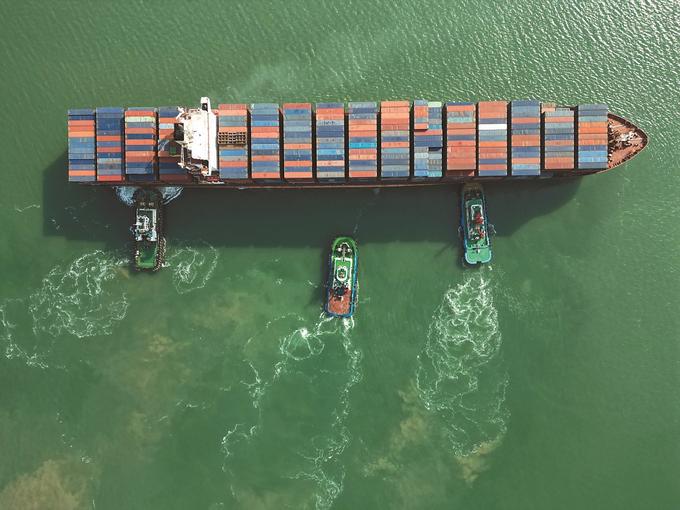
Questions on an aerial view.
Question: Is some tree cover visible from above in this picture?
No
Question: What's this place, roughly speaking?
port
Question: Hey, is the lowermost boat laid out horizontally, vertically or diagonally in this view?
vertically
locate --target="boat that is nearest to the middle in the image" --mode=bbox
[325,235,359,319]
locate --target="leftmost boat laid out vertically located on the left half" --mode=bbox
[132,188,165,271]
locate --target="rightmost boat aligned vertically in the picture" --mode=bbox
[460,184,491,266]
